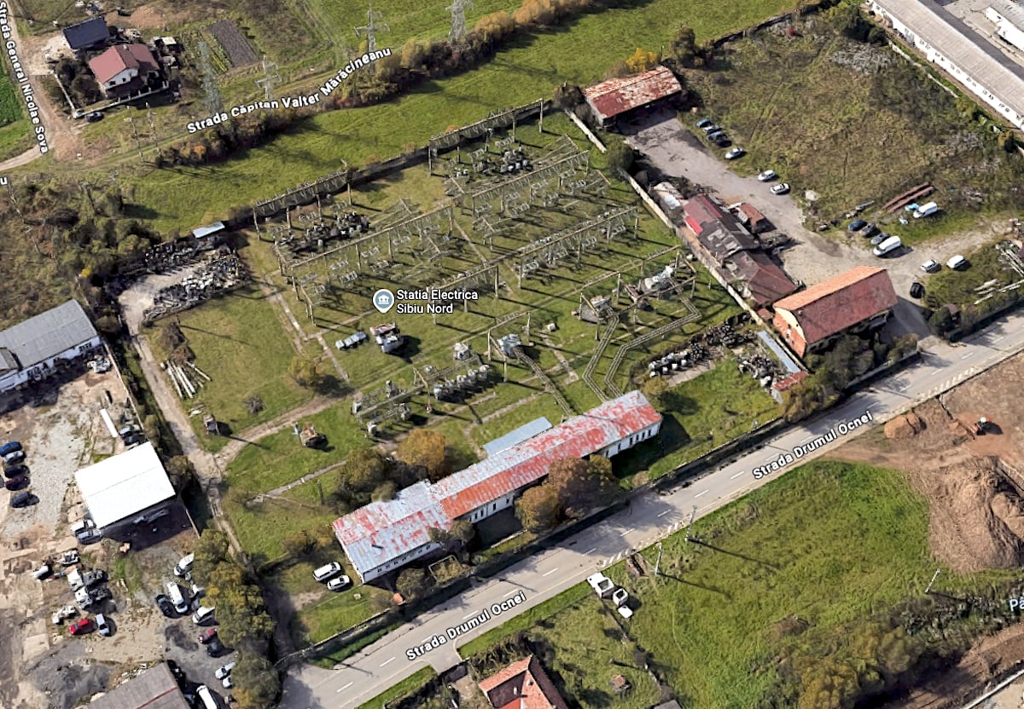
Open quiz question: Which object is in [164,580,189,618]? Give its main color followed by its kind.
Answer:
white vehicle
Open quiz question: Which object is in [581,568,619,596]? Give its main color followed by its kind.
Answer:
white truck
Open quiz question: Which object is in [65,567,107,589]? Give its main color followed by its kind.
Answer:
white truck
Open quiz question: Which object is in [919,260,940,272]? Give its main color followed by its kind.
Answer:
white vehicle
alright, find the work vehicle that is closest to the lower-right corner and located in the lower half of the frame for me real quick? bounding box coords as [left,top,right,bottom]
[965,416,993,437]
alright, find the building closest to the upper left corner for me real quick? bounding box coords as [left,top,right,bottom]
[62,16,111,59]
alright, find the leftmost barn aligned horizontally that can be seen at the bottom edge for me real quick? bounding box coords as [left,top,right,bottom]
[86,664,189,709]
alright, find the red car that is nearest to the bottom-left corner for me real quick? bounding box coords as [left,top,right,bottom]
[68,620,95,638]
